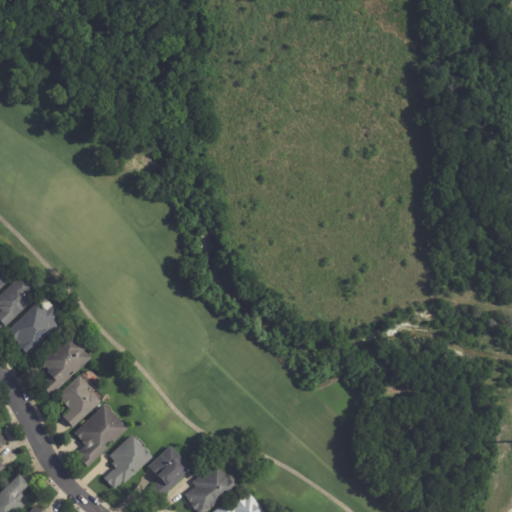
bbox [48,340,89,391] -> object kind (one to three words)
house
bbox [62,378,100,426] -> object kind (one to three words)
house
